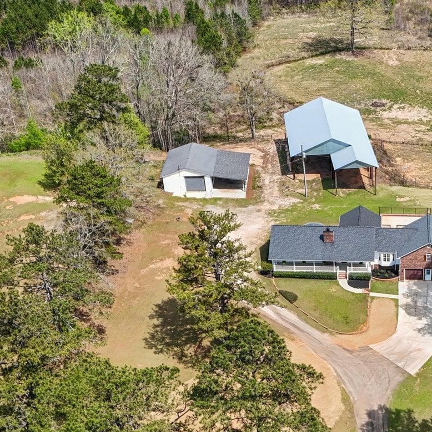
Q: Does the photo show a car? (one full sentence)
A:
No, I can see no car in this picture.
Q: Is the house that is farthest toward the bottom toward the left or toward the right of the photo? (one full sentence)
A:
You can find the house that is farthest toward the bottom on the right side of the picture.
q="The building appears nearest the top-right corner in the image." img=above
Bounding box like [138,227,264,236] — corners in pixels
[284,99,380,195]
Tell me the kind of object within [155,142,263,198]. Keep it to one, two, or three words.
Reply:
building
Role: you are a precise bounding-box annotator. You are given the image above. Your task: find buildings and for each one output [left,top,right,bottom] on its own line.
[284,99,380,195]
[155,142,263,198]
[269,207,432,282]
